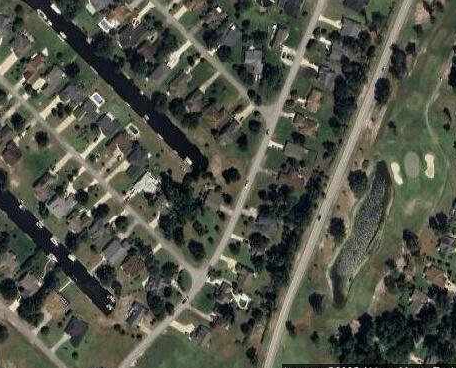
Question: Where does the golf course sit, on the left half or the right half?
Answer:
right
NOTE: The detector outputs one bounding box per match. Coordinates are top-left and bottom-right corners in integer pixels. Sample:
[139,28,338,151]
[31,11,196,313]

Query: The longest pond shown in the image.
[332,159,391,307]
